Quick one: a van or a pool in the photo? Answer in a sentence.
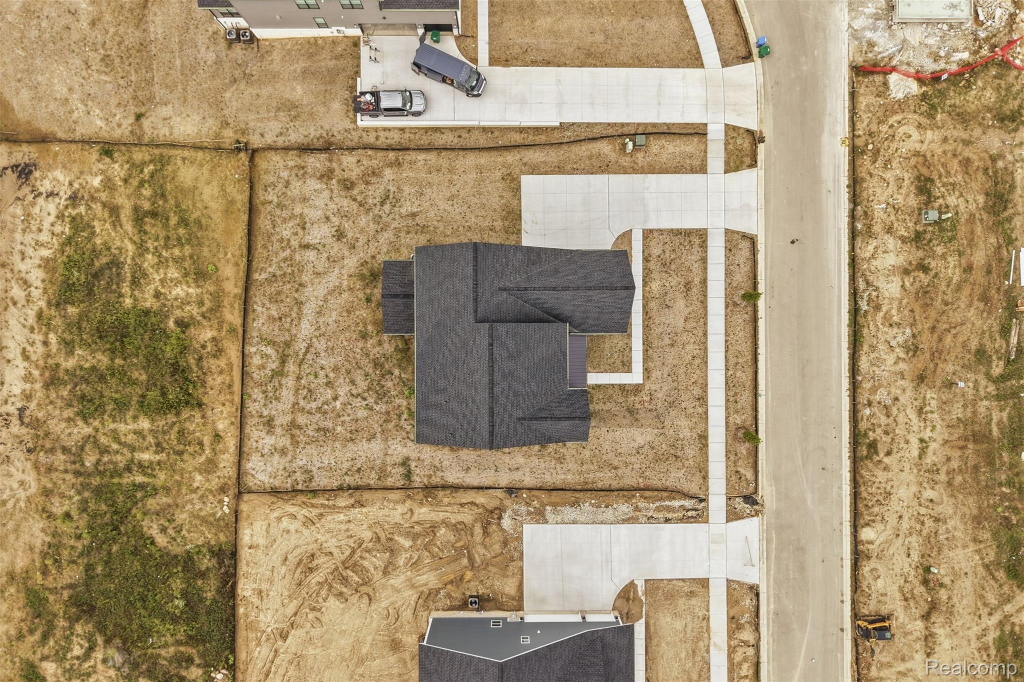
Visible in the photo is a van.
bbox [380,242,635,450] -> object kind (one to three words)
house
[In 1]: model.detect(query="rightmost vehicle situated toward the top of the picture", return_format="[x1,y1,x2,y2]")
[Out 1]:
[406,34,487,97]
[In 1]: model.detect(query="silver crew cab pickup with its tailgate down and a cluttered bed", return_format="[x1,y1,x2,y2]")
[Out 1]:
[354,86,427,116]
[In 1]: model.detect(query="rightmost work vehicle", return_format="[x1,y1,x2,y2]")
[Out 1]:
[860,617,897,645]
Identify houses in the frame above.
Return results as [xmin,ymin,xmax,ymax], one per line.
[380,242,635,450]
[417,607,634,682]
[195,0,473,56]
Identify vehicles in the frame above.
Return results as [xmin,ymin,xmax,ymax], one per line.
[860,617,897,645]
[354,86,427,116]
[406,34,487,97]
